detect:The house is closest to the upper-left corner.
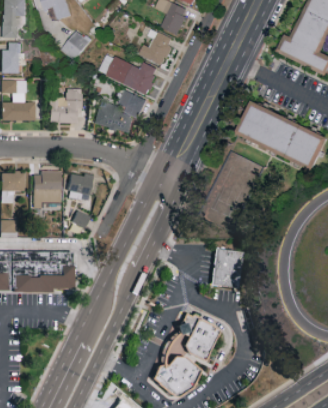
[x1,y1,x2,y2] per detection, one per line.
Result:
[2,0,26,38]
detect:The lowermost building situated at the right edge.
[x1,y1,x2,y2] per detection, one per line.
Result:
[236,102,326,168]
